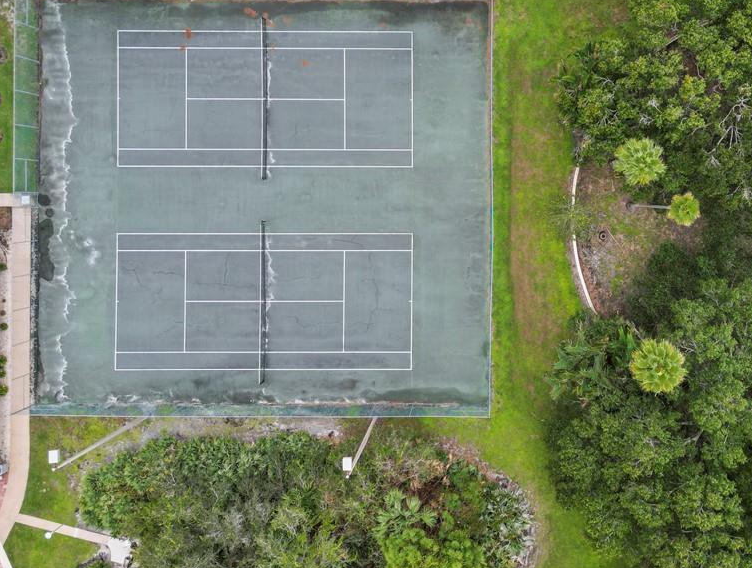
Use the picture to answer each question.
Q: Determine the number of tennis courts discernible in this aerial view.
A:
two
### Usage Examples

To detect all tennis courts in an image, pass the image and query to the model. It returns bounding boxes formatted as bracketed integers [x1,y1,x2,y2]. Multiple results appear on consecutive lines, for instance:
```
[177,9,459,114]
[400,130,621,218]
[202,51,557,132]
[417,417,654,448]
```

[117,31,412,167]
[115,234,412,371]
